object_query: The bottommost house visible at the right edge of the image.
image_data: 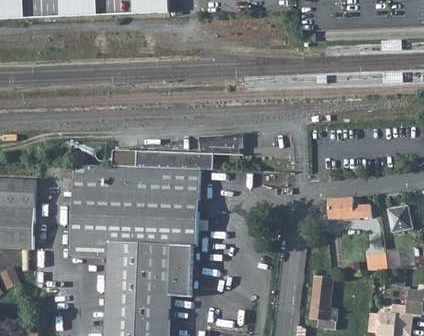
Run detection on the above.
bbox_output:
[368,304,412,336]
